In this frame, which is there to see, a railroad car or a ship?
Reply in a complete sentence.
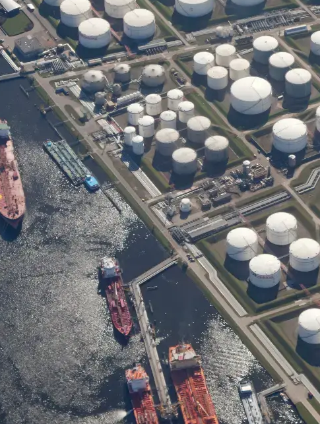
It is a ship that can be seen here.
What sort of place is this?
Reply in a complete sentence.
This image shows an industrial area.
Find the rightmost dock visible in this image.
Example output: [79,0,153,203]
[257,381,288,424]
